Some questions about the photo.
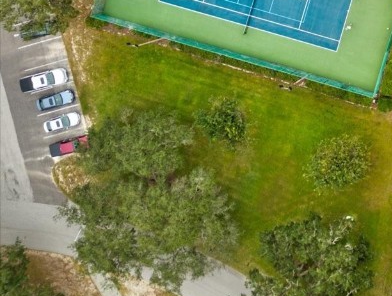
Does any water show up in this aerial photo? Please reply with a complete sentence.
No, there is no water in the image.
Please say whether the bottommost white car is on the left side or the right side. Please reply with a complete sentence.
It is on the left.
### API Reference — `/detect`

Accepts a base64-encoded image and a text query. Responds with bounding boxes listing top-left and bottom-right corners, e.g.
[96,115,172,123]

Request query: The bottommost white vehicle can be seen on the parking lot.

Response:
[43,110,84,133]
